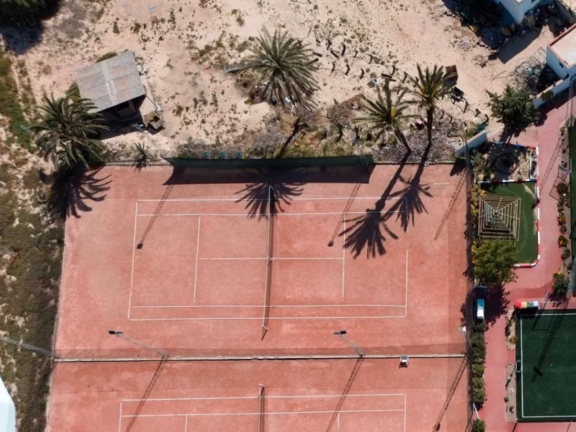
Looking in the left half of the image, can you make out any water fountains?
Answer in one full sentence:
No, looking in the left half of the image, there is no water fountain.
